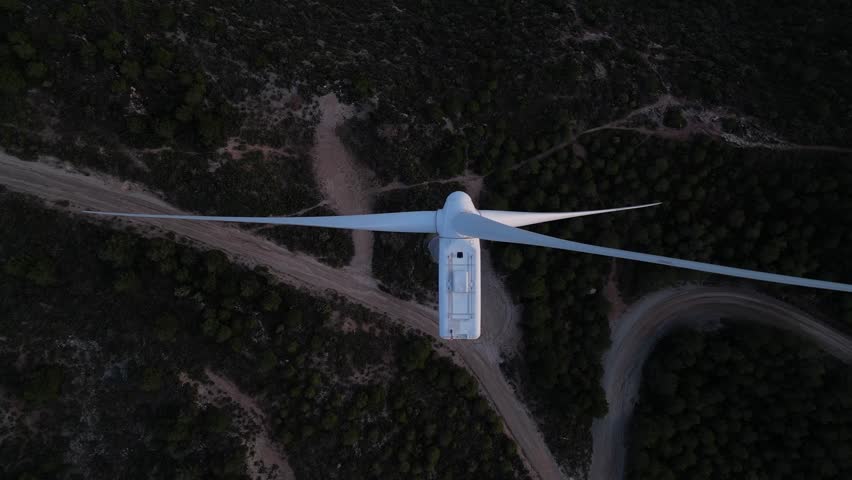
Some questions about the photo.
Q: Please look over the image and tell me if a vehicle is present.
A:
No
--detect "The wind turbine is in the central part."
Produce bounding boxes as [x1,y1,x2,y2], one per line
[89,192,852,339]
